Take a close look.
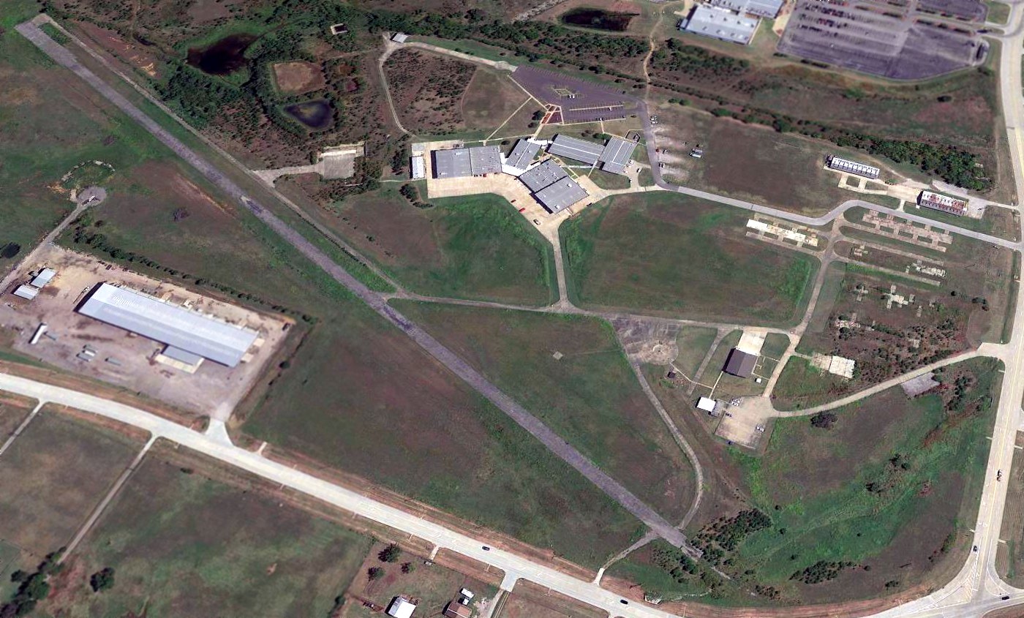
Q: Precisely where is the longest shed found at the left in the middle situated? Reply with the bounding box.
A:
[79,282,258,370]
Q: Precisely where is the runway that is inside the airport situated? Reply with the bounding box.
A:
[15,22,686,547]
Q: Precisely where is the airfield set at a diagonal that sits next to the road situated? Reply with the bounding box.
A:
[15,13,792,569]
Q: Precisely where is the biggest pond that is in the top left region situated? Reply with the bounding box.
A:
[187,34,257,76]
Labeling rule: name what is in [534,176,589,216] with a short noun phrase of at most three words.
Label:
hangar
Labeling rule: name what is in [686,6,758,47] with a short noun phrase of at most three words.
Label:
building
